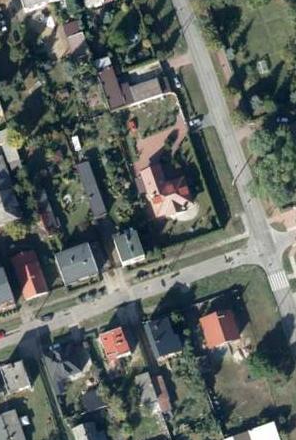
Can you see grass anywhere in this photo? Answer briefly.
Yes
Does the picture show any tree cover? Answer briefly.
Yes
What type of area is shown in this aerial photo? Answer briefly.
residential area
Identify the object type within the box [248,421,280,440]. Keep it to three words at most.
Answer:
building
